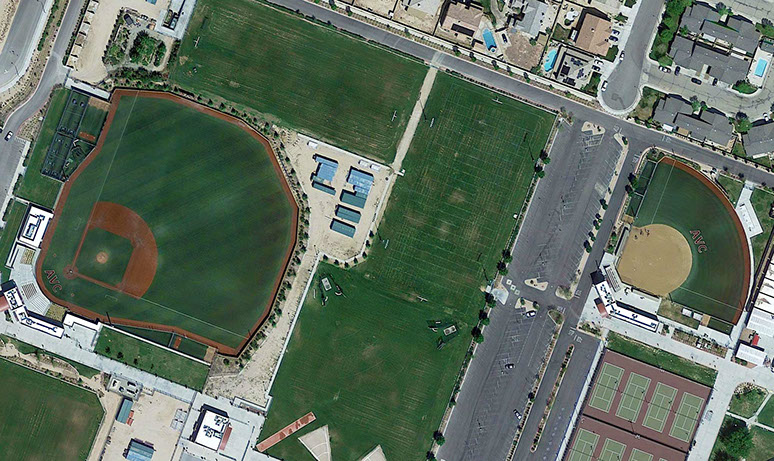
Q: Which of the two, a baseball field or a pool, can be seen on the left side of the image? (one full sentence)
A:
It is a baseball field that can be seen on the left side of the image.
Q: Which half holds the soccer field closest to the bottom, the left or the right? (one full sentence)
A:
The soccer field closest to the bottom sits on the left side.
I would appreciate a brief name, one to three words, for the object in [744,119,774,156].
building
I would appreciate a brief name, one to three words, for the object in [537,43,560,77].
swimming pool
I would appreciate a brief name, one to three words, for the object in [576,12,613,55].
house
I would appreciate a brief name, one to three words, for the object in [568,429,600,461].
tennis court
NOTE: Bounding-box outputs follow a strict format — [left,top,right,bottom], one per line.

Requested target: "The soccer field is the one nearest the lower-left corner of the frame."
[0,357,106,461]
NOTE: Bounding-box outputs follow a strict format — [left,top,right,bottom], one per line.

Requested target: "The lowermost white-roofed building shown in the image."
[194,410,228,453]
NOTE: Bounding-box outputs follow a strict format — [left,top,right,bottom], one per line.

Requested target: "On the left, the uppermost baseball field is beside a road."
[36,90,298,356]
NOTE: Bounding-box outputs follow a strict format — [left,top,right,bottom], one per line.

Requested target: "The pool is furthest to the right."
[747,47,774,88]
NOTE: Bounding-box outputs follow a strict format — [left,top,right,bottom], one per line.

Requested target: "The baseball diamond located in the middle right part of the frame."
[617,156,751,325]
